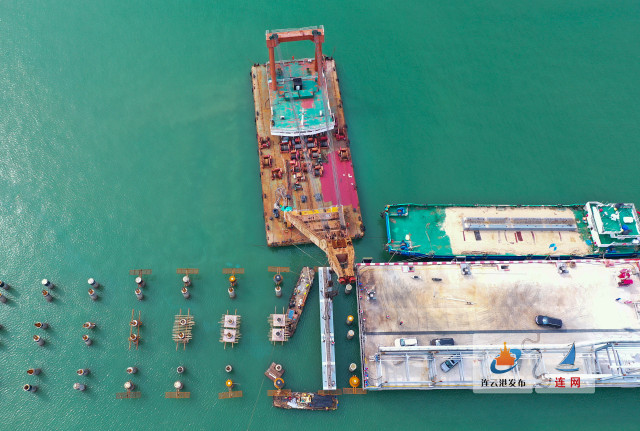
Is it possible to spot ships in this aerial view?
Yes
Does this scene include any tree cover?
No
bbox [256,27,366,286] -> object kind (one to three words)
ship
